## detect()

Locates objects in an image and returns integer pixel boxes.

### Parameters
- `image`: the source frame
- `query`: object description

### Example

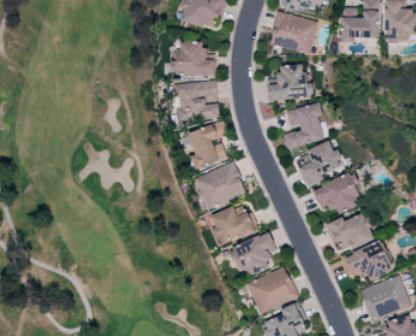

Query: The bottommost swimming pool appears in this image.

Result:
[397,235,416,250]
